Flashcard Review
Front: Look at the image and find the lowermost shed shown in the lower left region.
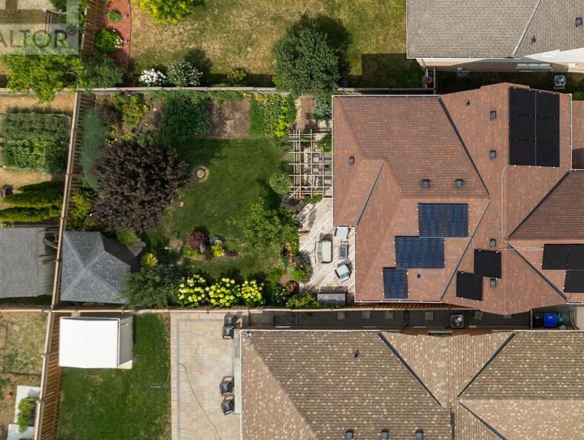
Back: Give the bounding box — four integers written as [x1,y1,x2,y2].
[59,314,133,369]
